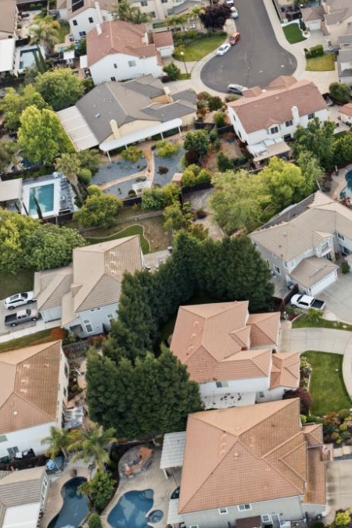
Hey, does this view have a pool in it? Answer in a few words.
Yes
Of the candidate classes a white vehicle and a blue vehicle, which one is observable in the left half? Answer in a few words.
white vehicle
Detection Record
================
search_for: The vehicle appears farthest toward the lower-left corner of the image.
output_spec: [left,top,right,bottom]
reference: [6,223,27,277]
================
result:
[0,308,34,328]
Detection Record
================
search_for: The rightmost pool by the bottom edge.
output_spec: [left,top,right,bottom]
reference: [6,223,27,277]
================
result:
[147,506,167,526]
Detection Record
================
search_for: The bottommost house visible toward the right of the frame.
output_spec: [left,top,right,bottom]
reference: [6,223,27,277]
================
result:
[162,397,327,528]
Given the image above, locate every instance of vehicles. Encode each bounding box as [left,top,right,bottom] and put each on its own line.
[227,81,250,95]
[230,8,240,18]
[0,308,34,328]
[214,44,233,55]
[3,292,31,309]
[289,292,327,312]
[228,34,241,45]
